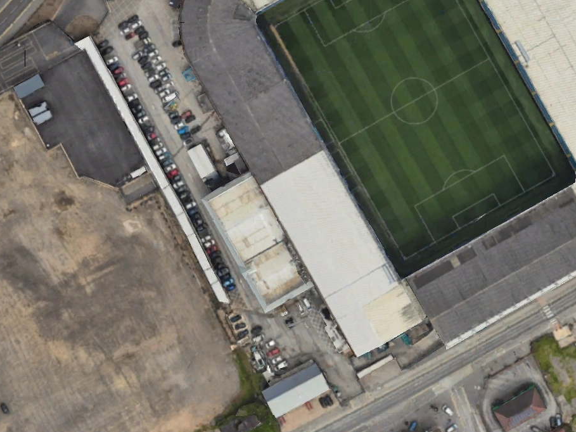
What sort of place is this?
sports ground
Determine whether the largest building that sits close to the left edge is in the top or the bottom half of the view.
top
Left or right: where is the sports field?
right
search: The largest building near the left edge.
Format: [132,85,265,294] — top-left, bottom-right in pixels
[14,75,45,97]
